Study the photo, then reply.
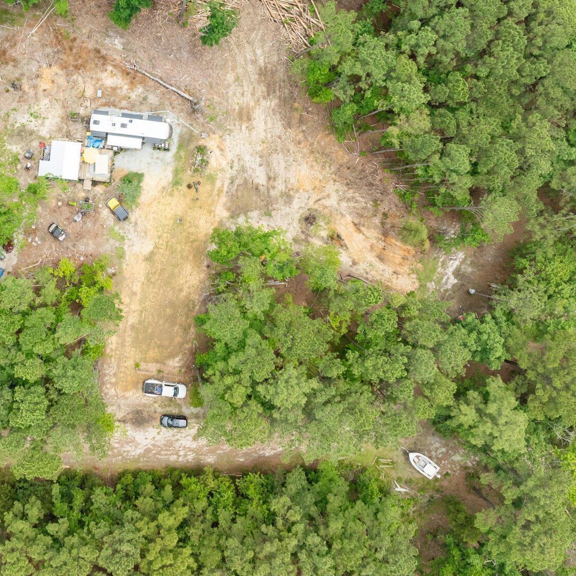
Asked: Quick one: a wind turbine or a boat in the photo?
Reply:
boat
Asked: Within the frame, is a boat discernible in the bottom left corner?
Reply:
No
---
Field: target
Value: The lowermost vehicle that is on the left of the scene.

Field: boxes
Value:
[160,414,188,430]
